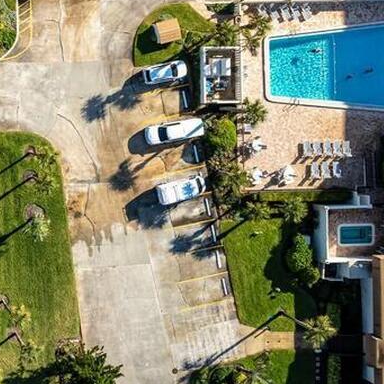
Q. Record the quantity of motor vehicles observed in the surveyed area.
3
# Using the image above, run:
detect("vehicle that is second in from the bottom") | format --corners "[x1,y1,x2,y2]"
[142,118,205,145]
